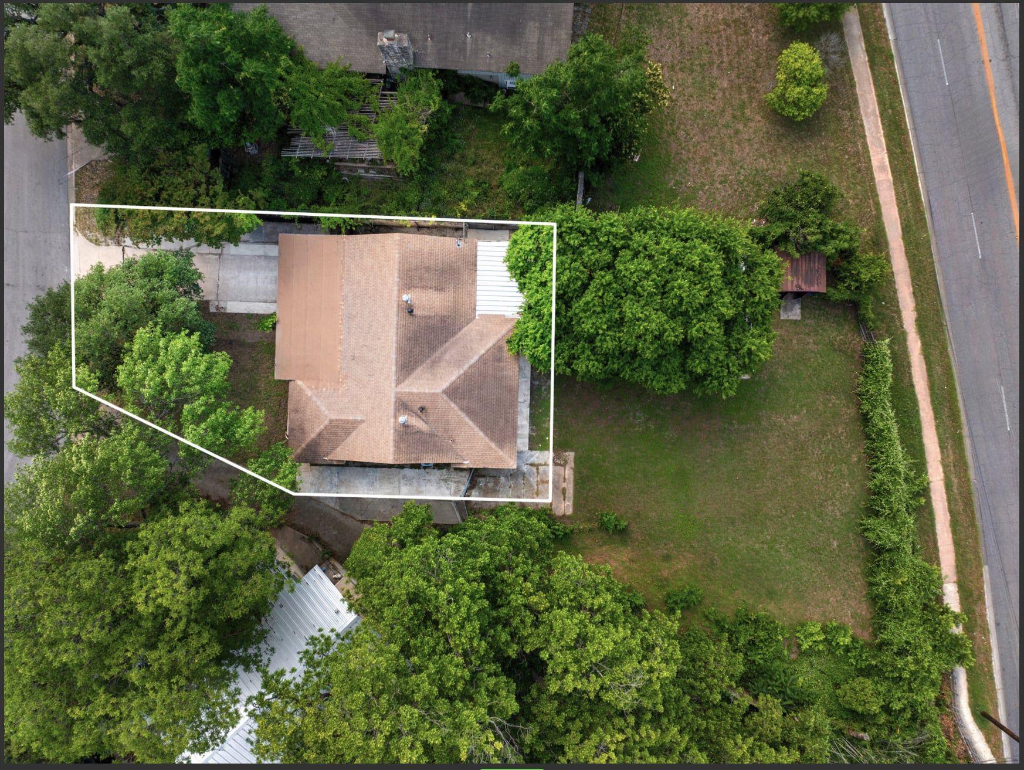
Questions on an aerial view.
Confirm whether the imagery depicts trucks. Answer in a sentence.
No, this view has no truck in it.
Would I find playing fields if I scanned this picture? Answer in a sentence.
No, no playing field can be seen from above.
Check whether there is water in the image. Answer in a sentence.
No, there's no water in this view.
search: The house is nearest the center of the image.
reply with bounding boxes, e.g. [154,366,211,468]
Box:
[273,230,531,468]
